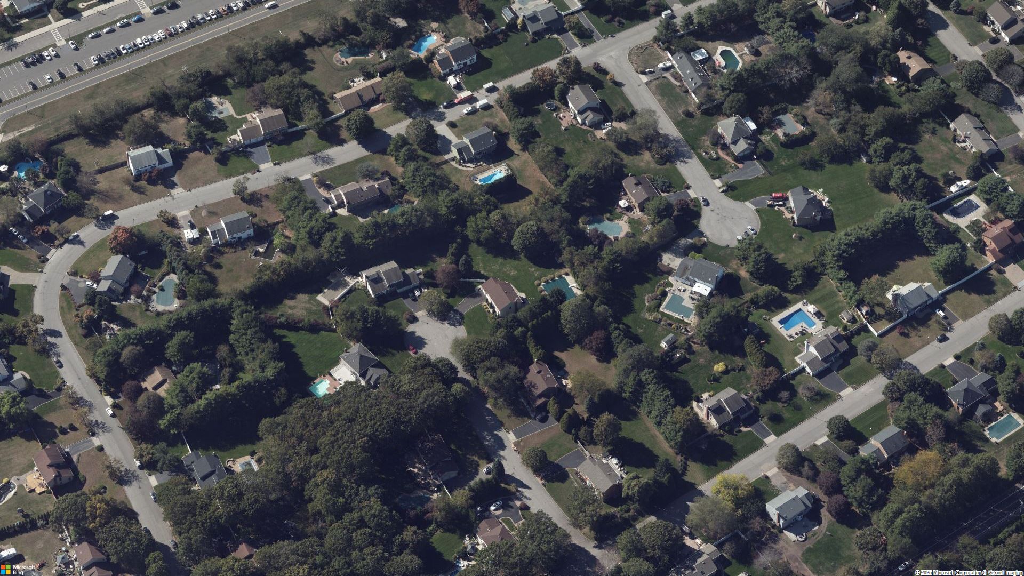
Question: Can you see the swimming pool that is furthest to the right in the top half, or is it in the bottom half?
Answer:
bottom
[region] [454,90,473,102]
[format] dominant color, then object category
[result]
white vehicle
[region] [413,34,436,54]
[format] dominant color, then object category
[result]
blue swimming pool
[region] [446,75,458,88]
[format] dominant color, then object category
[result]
white vehicle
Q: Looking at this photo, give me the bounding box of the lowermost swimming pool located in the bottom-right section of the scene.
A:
[989,414,1022,440]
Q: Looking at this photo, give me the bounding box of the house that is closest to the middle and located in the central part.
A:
[480,275,522,318]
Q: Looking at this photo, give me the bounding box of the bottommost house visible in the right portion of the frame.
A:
[684,542,721,576]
